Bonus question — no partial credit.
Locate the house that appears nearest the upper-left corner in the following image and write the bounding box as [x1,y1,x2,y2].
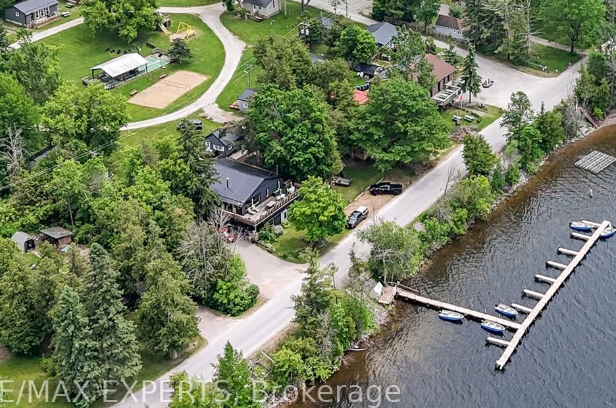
[4,0,62,28]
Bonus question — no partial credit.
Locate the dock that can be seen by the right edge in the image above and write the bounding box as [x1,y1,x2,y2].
[399,218,613,373]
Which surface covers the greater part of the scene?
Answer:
trees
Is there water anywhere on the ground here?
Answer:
Yes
